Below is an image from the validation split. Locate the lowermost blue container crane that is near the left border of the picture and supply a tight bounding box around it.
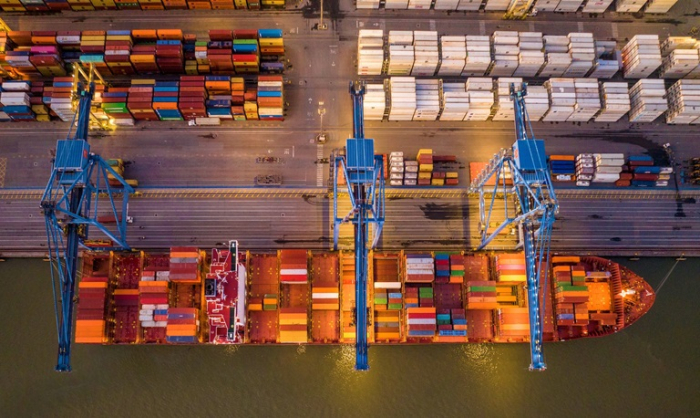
[35,80,145,374]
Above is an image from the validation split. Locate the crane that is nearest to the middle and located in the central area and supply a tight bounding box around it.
[322,81,386,371]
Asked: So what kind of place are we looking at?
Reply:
port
